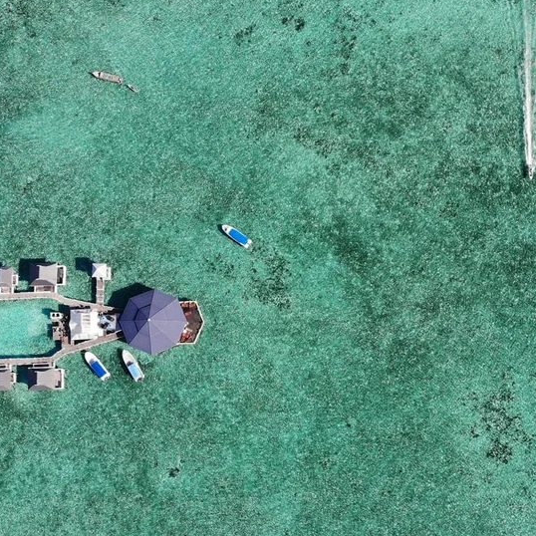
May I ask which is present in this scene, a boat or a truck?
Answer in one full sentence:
Visible in the photo is a boat.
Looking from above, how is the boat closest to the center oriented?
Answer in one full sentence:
In this picture, the boat closest to the center is oriented on a diagonal.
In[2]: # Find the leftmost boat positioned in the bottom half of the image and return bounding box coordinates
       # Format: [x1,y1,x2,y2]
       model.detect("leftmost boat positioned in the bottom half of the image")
[83,351,110,381]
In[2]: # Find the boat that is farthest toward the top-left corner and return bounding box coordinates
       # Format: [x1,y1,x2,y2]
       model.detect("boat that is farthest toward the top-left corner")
[92,71,124,84]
